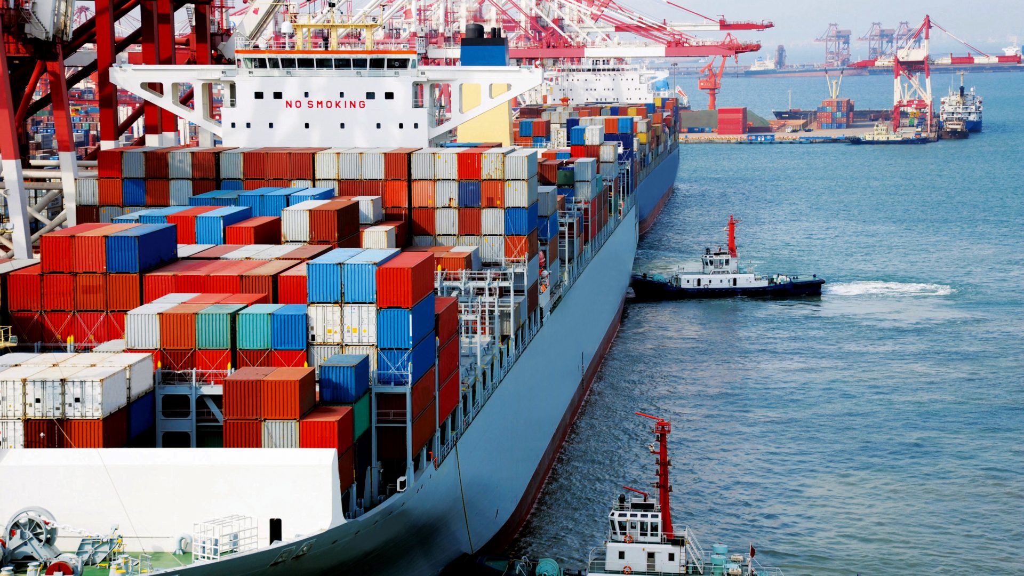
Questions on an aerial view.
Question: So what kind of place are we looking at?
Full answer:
This image shows a port.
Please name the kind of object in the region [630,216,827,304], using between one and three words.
boat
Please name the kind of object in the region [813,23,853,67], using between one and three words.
crane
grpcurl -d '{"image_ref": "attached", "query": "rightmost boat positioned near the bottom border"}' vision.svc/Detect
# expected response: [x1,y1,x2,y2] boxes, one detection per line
[453,411,802,576]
